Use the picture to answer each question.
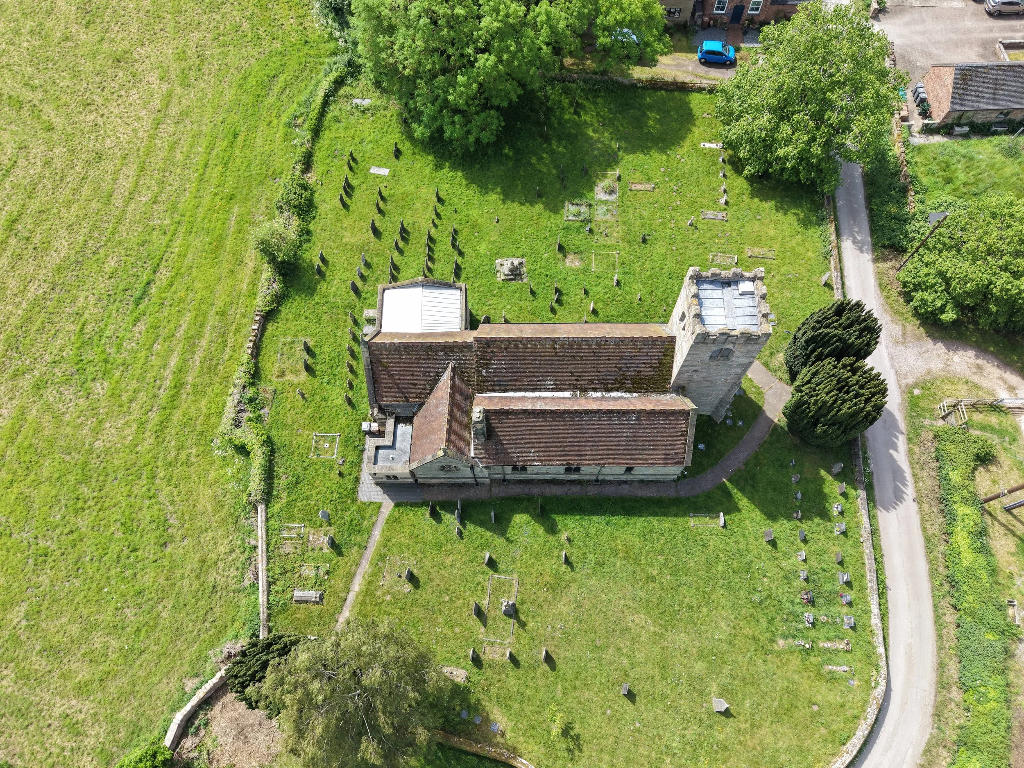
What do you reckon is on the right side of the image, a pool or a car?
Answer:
car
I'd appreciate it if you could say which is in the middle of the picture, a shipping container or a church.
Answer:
church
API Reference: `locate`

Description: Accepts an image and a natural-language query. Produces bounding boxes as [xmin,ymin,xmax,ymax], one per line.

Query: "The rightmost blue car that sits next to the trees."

[699,40,736,64]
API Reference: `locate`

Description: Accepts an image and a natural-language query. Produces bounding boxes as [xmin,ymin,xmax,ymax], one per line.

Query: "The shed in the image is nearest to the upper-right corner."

[919,62,1024,133]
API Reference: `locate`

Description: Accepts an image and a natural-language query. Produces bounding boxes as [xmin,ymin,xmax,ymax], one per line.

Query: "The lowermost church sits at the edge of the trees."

[359,267,774,491]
